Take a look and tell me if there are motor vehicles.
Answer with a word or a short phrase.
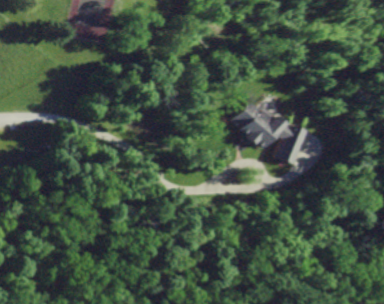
No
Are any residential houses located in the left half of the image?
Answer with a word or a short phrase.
No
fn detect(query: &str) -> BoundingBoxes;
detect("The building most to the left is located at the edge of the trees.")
[232,100,292,149]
